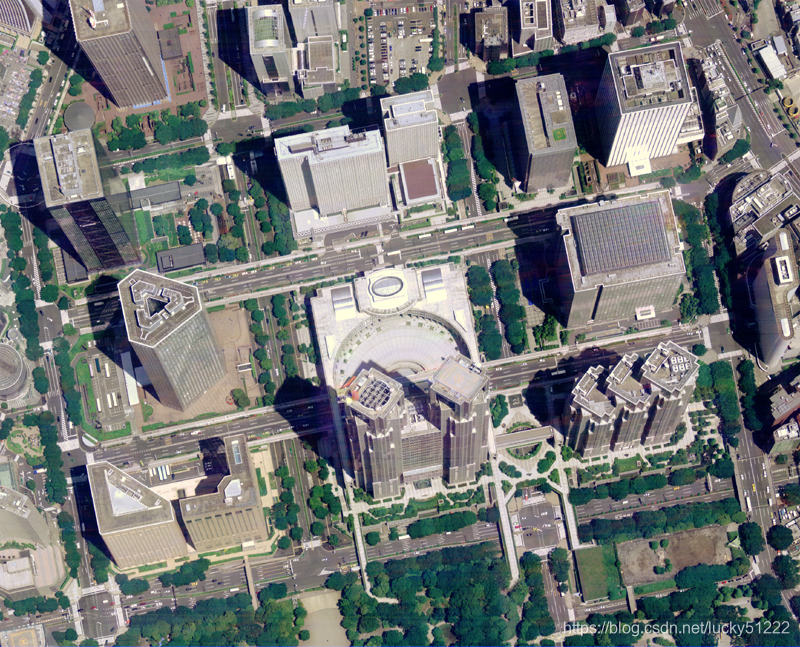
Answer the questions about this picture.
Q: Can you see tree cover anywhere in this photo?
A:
Yes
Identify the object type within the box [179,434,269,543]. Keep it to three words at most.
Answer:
building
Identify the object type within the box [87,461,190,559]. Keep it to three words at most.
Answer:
building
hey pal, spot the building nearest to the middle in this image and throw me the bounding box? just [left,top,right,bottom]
[310,264,479,391]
